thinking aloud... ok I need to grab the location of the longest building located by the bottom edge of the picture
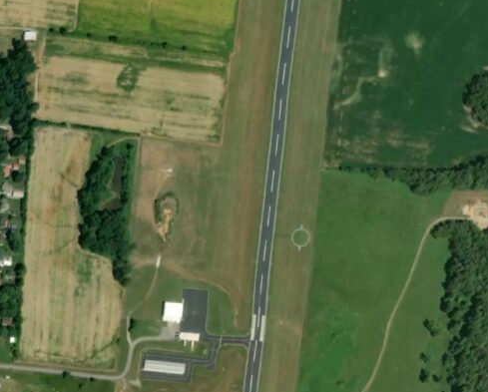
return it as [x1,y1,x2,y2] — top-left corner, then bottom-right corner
[143,360,185,374]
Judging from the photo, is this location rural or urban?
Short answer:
rural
